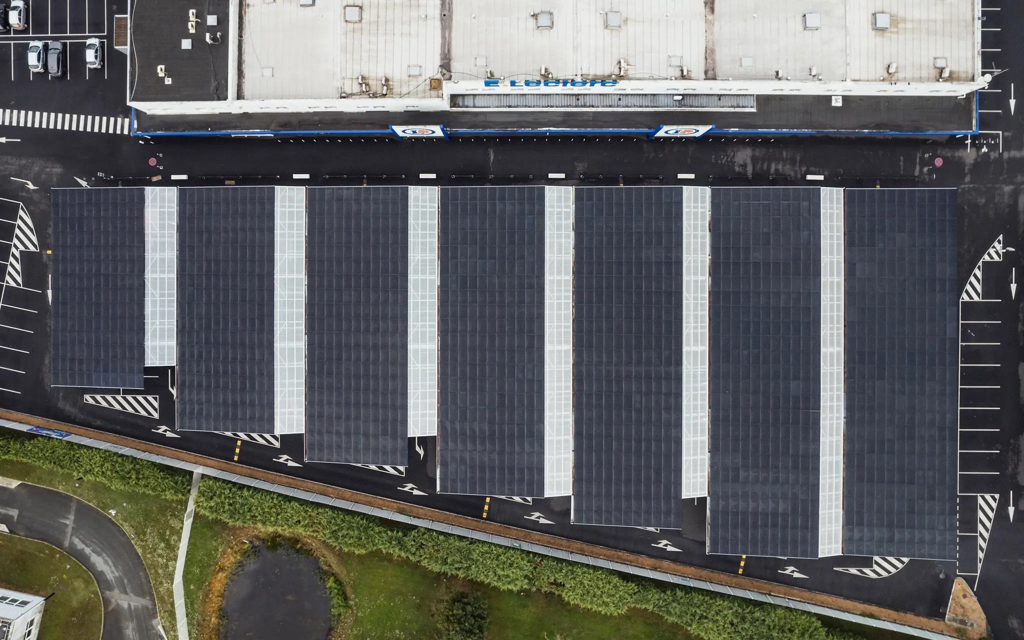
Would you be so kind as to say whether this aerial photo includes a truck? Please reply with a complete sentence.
No, this view has no truck in it.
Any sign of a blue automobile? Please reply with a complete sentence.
No, there is no blue automobile in the image.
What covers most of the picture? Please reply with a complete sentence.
The largest share of the image is taken up by buildings.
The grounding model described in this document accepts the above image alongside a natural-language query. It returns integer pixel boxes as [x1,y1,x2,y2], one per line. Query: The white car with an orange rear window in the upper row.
[7,0,29,31]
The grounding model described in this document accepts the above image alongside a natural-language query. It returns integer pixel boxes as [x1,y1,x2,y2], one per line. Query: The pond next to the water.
[218,541,334,640]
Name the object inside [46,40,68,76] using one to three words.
car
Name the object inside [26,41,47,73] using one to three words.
car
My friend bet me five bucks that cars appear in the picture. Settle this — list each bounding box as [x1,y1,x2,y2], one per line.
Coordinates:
[7,0,29,31]
[46,40,68,76]
[84,38,105,69]
[26,41,47,73]
[0,0,11,34]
